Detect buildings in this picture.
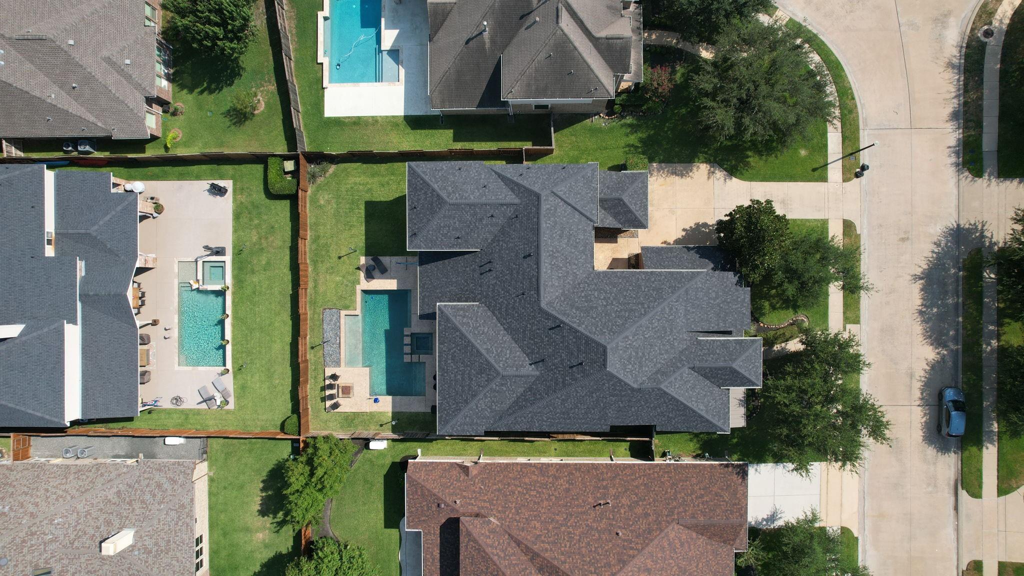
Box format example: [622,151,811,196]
[426,0,644,116]
[406,160,763,435]
[0,0,172,140]
[404,447,749,576]
[0,449,212,576]
[0,163,156,427]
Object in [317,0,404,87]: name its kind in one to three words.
swimming pool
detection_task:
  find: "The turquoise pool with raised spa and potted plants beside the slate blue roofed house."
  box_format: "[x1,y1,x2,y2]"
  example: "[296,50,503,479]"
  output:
[175,250,232,370]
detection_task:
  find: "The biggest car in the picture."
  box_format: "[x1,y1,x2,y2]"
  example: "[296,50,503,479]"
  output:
[937,385,970,438]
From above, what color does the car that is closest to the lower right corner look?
blue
